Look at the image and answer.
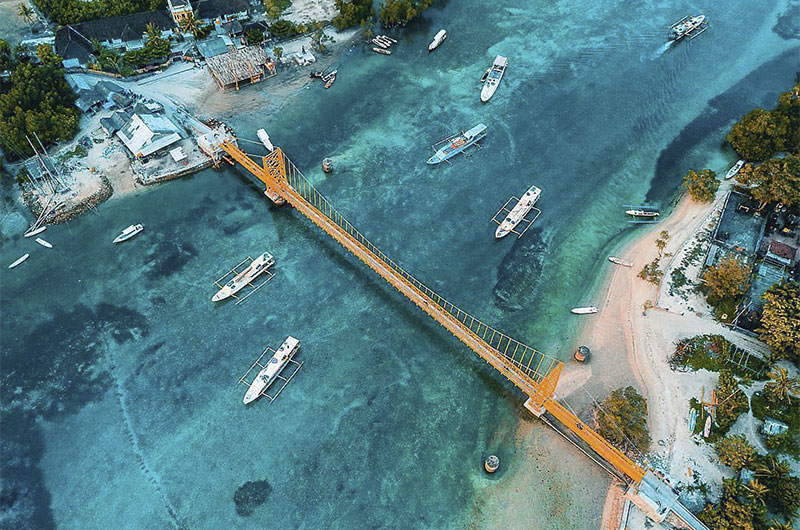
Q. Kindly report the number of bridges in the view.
one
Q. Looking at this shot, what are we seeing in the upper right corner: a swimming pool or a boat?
boat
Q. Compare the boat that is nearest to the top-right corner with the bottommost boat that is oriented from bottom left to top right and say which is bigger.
the bottommost boat that is oriented from bottom left to top right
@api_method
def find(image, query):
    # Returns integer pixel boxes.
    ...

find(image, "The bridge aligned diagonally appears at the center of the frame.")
[212,136,651,482]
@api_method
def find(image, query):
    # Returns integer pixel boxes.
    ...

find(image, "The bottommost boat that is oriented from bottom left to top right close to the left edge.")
[8,252,30,268]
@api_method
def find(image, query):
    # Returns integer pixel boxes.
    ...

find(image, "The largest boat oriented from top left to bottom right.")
[255,125,276,155]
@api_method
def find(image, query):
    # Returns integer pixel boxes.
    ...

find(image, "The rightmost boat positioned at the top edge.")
[662,14,718,42]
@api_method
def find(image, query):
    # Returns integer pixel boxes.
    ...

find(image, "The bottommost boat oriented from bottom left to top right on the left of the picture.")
[232,332,309,409]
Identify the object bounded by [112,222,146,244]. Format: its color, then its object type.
white boat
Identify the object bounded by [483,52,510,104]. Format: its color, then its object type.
white boat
